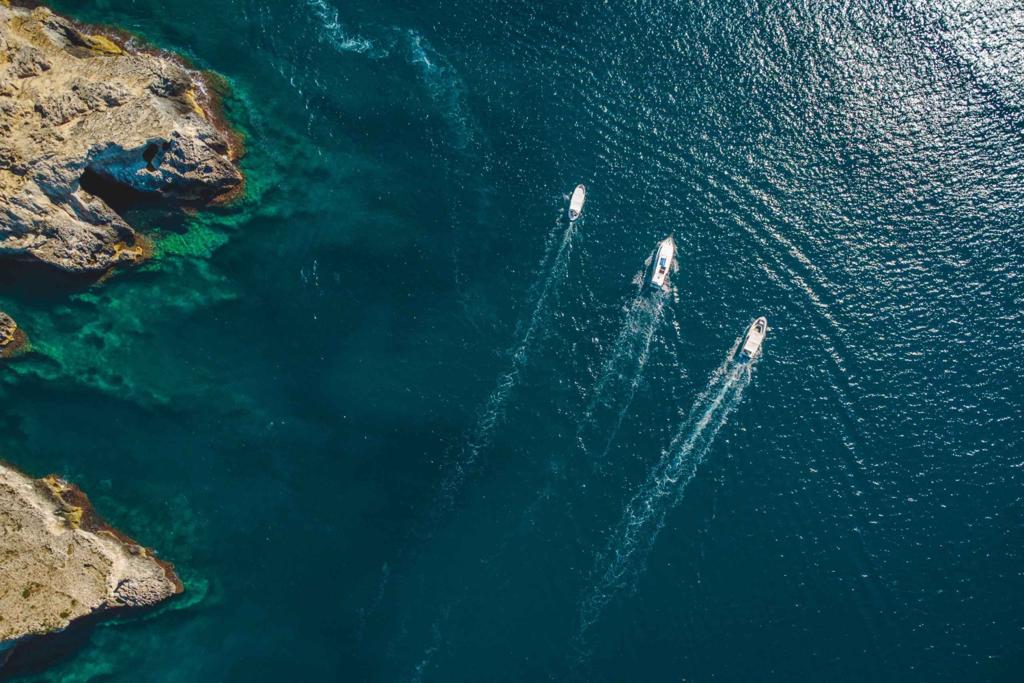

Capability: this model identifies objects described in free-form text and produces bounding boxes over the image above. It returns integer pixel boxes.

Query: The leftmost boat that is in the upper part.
[568,183,586,221]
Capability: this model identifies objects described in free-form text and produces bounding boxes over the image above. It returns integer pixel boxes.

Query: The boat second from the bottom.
[649,232,674,288]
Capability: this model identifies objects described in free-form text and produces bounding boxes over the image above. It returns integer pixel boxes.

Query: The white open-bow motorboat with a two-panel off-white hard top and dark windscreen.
[740,316,767,358]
